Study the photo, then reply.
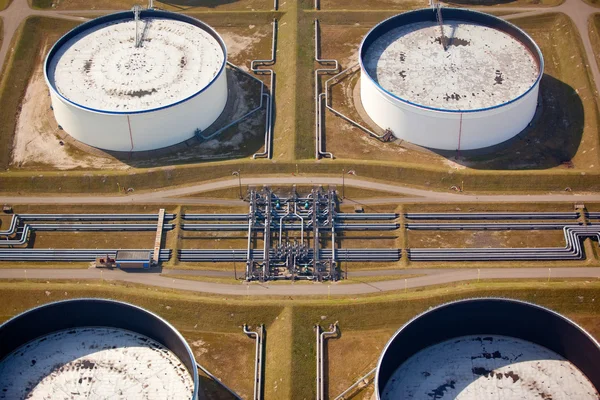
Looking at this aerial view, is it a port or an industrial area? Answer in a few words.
industrial area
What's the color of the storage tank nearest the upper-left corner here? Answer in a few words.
white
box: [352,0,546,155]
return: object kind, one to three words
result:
storage tank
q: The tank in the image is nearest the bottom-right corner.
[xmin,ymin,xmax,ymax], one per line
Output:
[367,295,600,400]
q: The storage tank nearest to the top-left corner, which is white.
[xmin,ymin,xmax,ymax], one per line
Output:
[43,0,236,156]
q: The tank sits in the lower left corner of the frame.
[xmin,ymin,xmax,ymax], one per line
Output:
[0,296,210,400]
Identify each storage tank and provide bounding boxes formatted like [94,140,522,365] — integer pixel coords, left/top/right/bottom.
[352,0,546,155]
[43,0,236,156]
[0,296,210,400]
[367,295,600,400]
